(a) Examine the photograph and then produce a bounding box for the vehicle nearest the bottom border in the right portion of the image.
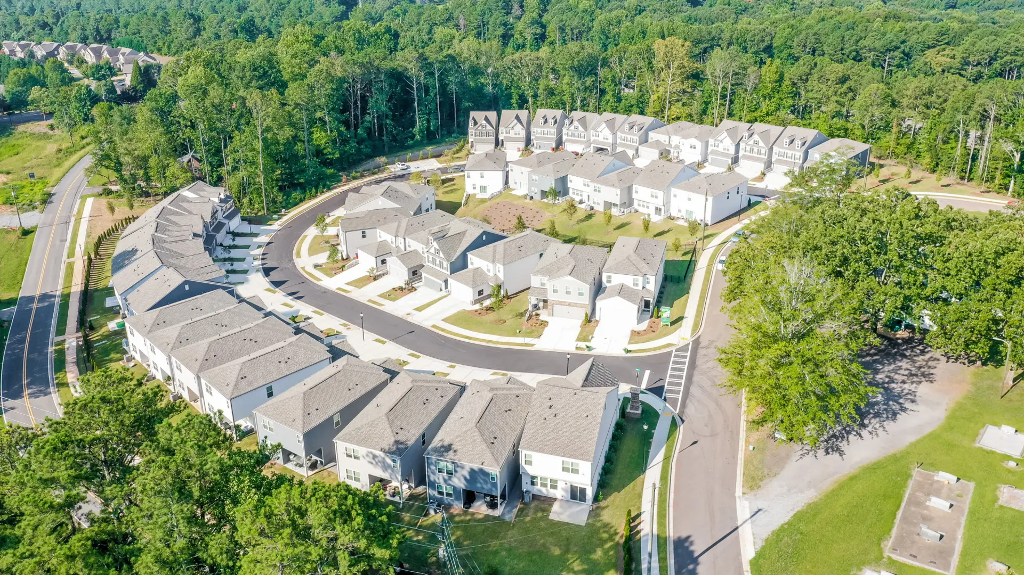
[716,252,729,265]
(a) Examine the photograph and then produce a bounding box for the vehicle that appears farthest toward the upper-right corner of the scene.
[730,228,745,240]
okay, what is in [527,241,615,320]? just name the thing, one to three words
house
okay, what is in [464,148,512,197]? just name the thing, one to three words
house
